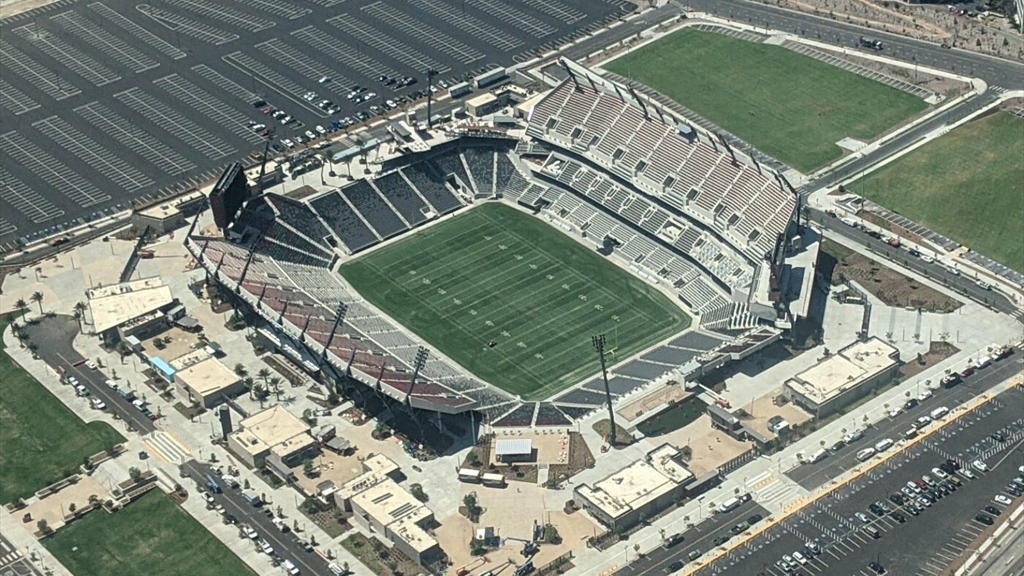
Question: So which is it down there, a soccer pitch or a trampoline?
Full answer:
There is a soccer pitch in the scene.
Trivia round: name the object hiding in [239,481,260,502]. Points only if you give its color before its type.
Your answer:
white truck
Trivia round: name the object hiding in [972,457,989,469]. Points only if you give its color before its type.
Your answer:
white vehicle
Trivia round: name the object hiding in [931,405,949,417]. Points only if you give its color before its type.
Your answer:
white vehicle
